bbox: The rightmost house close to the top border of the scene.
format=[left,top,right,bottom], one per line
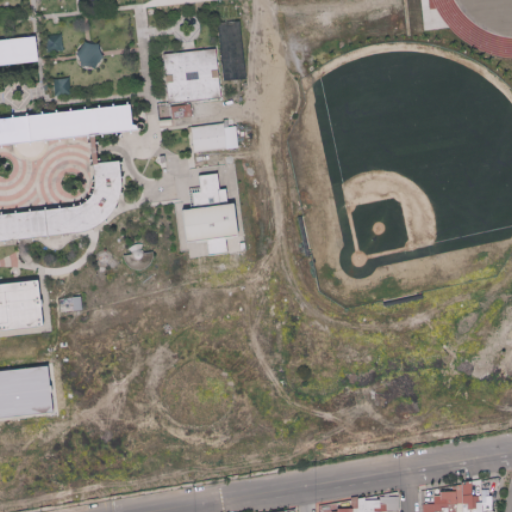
[220,20,246,81]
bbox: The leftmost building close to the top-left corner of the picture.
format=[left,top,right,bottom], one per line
[0,36,38,66]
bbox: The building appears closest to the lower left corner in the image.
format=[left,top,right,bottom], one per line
[0,365,53,418]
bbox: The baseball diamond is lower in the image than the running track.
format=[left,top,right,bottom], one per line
[302,42,512,278]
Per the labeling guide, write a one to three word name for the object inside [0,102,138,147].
building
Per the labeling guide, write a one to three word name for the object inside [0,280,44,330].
building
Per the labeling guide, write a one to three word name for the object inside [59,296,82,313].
shed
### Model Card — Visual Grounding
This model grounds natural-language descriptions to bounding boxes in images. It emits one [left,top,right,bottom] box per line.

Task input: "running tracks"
[430,0,512,58]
